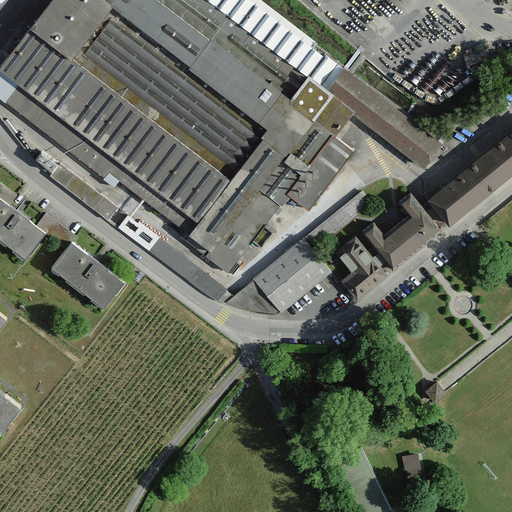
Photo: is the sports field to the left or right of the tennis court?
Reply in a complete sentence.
The tennis court has the sports field on its right side.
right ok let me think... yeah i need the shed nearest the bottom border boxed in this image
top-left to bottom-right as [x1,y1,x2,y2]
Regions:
[402,454,421,478]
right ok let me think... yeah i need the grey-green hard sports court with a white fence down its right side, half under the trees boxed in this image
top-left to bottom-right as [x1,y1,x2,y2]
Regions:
[336,446,392,512]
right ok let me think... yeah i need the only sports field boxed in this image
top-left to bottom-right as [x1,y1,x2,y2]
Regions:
[421,343,512,512]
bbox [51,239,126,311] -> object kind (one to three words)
building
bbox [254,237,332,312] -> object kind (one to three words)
shed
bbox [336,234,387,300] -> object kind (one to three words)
house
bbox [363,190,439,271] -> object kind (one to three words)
building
